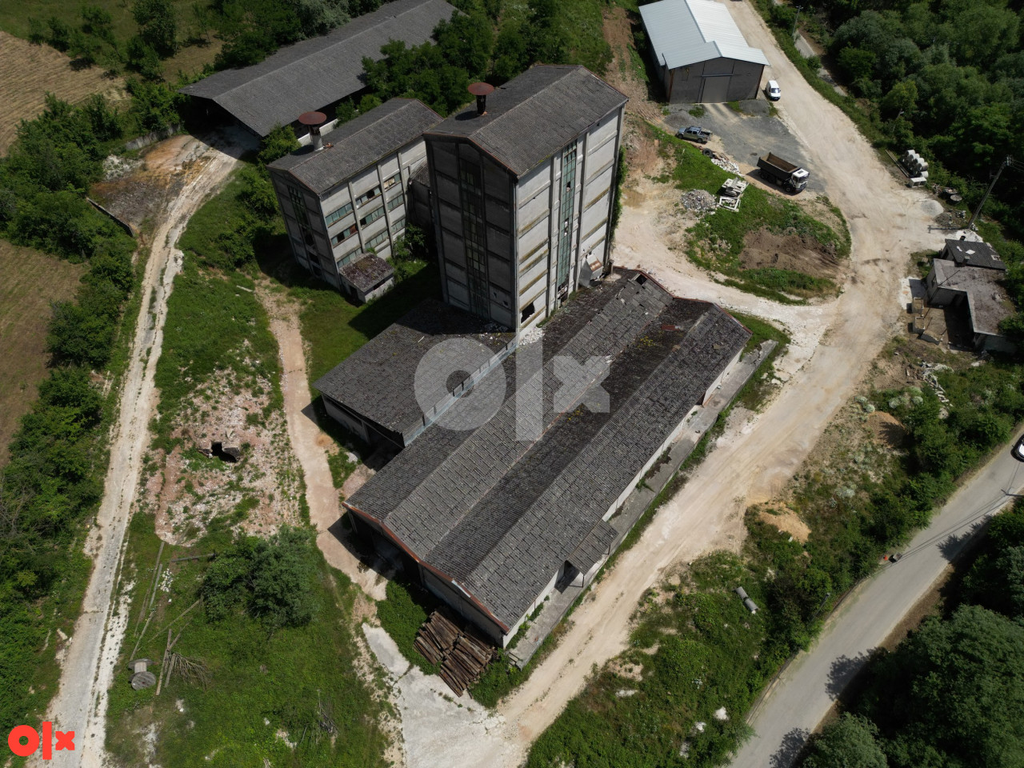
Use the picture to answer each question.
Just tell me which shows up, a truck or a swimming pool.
truck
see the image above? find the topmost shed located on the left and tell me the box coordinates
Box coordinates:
[176,0,484,159]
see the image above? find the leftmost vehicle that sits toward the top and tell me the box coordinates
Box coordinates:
[678,126,710,142]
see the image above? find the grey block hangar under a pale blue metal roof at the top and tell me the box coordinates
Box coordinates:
[640,0,771,101]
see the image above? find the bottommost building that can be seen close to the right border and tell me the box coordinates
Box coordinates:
[925,258,1024,352]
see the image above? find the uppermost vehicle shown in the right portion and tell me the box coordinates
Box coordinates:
[766,80,782,98]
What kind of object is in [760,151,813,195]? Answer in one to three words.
truck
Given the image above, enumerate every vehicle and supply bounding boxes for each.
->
[1016,435,1024,458]
[766,80,782,98]
[678,126,710,142]
[760,151,813,195]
